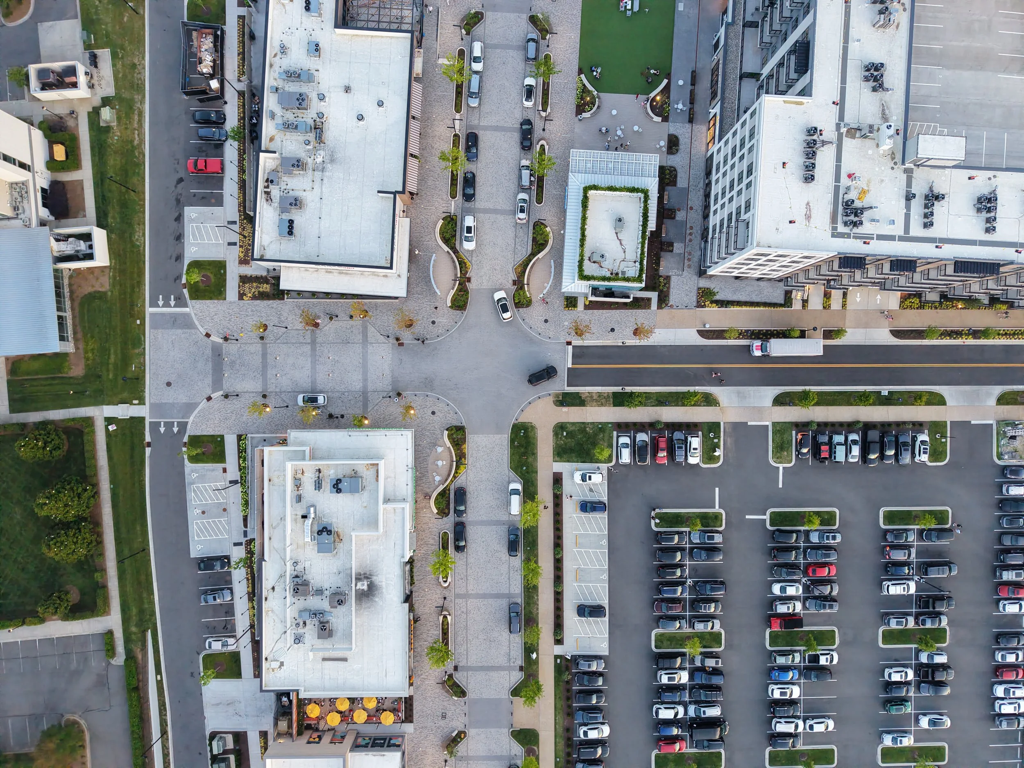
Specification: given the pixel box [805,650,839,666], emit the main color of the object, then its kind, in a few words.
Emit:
white vehicle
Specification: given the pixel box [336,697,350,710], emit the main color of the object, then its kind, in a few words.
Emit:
yellow umbrella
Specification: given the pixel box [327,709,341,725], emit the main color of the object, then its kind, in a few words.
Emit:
yellow umbrella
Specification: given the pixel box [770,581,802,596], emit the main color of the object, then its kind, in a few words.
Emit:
white car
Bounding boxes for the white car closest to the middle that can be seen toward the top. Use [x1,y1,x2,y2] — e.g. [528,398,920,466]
[493,290,513,323]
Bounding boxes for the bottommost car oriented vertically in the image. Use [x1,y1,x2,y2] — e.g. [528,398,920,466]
[506,602,521,634]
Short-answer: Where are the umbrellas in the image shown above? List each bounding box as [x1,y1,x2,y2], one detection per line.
[354,707,368,722]
[336,697,350,710]
[363,697,378,709]
[381,708,395,724]
[327,709,341,725]
[307,701,321,717]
